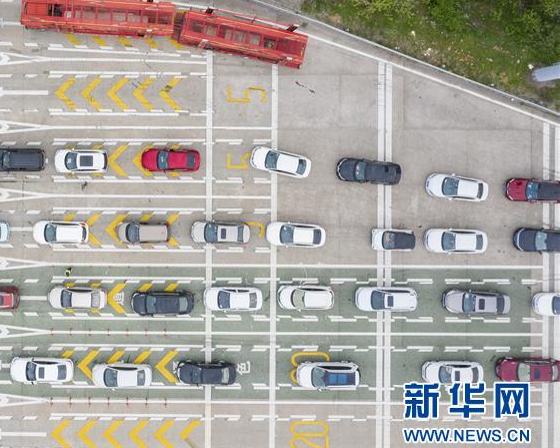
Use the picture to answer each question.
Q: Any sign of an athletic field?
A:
No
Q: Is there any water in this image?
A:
No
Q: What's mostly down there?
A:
paved ground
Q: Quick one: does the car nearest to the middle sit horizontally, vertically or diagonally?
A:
horizontally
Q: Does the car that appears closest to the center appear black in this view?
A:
No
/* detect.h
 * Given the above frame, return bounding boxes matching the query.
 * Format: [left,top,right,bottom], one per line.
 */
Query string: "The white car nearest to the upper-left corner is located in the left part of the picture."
[54,147,107,174]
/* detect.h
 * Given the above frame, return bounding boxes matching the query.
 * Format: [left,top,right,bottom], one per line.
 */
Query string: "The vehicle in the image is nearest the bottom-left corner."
[11,356,73,385]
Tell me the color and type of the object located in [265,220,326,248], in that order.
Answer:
white car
